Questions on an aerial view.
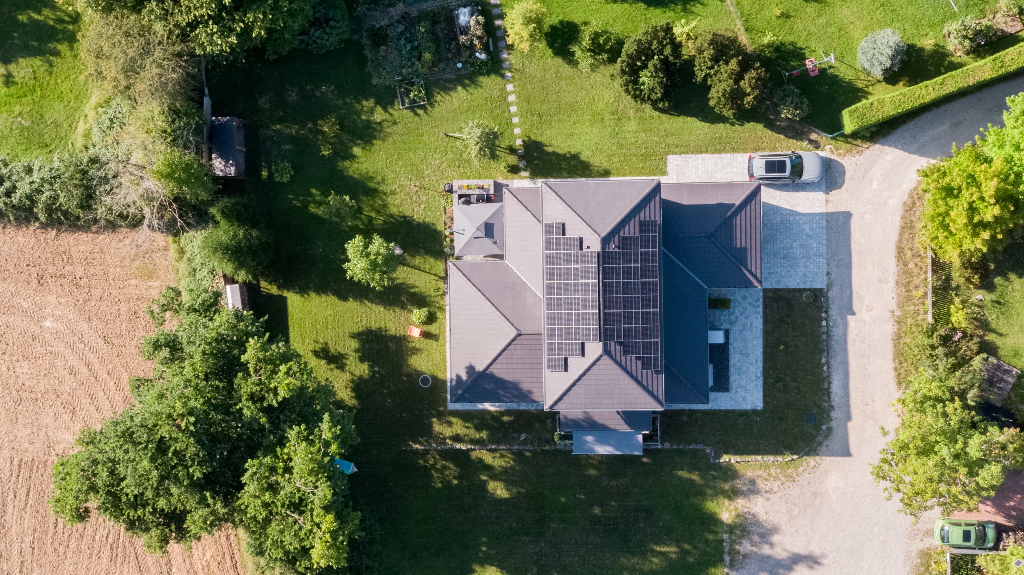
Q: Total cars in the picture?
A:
2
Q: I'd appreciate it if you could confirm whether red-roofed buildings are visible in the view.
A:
No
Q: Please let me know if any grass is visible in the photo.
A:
Yes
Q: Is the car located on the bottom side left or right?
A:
right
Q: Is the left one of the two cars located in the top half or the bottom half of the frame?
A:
top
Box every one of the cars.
[931,517,996,554]
[747,148,823,183]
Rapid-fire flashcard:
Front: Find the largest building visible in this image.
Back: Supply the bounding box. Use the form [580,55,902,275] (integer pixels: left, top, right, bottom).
[447,177,764,413]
